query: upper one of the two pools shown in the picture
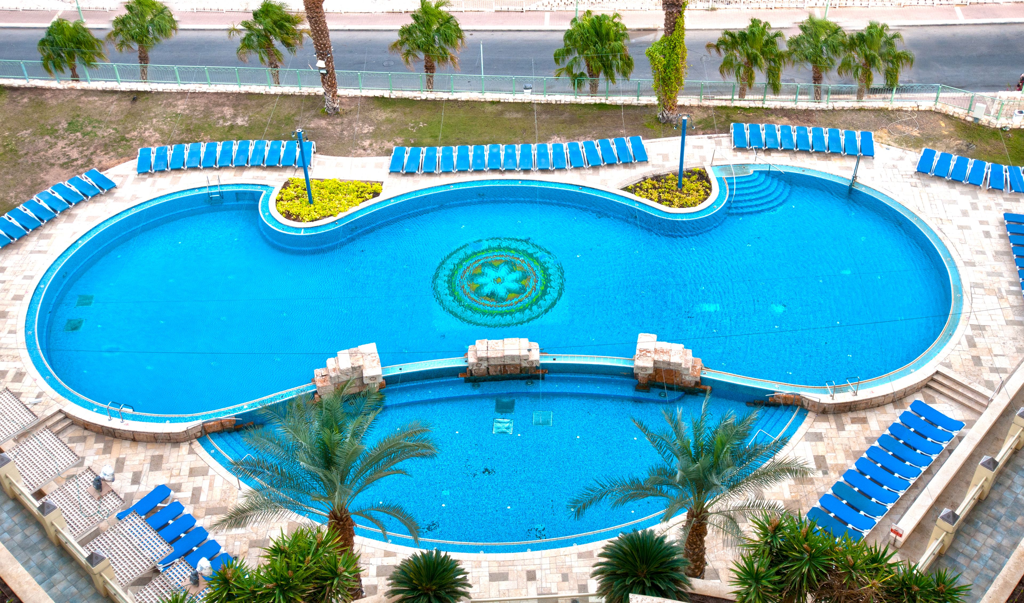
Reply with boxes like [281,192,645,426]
[36,170,952,415]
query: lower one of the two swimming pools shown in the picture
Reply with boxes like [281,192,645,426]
[207,374,800,544]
